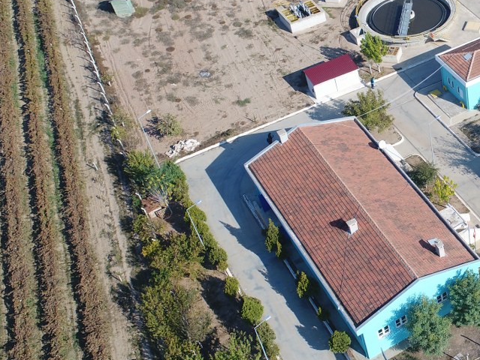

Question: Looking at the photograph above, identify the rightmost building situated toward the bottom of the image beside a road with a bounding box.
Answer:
[243,116,480,355]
